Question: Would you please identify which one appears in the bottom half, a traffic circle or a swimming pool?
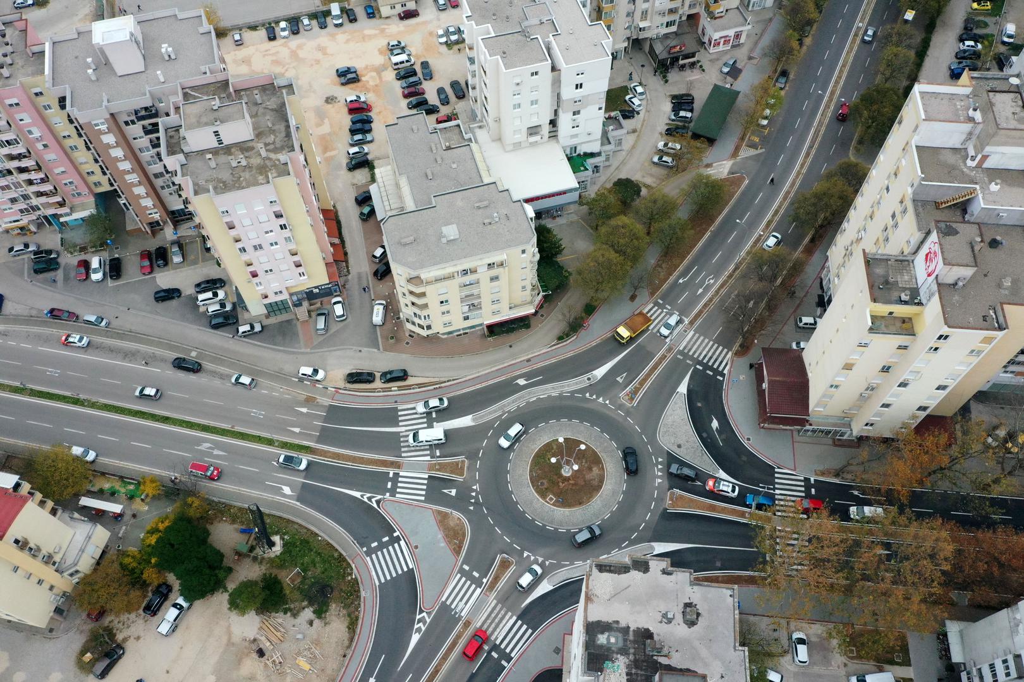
traffic circle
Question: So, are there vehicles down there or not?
Yes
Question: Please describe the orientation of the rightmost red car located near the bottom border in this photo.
diagonally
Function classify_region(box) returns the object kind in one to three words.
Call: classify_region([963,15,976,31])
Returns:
vehicle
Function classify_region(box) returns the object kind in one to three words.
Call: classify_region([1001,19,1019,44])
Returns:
vehicle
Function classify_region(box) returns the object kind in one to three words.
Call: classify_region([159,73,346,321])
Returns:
building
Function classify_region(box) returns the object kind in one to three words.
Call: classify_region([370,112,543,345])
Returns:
building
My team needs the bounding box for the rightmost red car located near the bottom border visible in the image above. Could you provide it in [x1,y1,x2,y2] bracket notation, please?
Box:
[460,628,490,664]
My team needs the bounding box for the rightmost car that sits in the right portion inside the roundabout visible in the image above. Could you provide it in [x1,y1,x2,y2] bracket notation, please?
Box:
[623,446,639,477]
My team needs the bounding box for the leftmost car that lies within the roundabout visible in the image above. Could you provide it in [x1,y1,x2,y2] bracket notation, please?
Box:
[496,420,528,450]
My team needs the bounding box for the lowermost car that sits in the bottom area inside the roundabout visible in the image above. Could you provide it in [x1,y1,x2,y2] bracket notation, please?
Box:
[570,522,605,550]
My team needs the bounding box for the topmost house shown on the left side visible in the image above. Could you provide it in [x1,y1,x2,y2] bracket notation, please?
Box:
[376,0,419,31]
